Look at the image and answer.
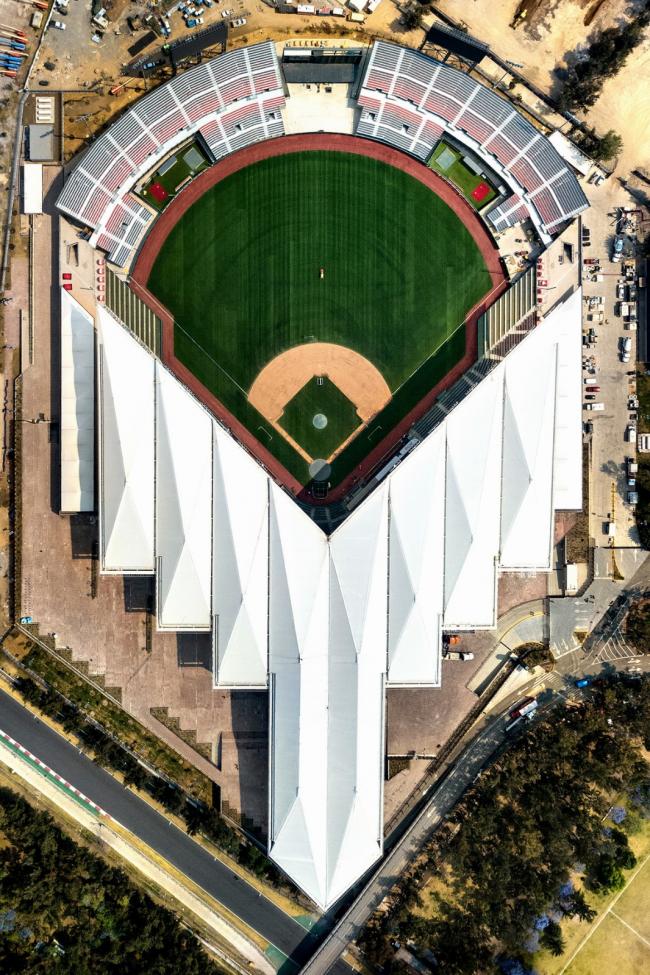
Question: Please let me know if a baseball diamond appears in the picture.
Yes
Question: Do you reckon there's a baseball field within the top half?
Yes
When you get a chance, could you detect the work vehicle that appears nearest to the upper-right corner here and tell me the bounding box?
[515,7,529,28]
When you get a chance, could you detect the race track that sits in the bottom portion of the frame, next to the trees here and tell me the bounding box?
[0,689,364,975]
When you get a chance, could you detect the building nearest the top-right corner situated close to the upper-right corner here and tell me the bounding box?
[545,131,592,178]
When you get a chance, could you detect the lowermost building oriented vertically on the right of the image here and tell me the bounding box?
[563,563,577,593]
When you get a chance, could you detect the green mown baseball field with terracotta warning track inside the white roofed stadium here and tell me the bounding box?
[129,134,509,506]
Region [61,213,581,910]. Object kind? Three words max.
stadium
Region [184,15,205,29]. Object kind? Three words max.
vehicle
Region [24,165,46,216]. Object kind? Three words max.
building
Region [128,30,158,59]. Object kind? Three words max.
shed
